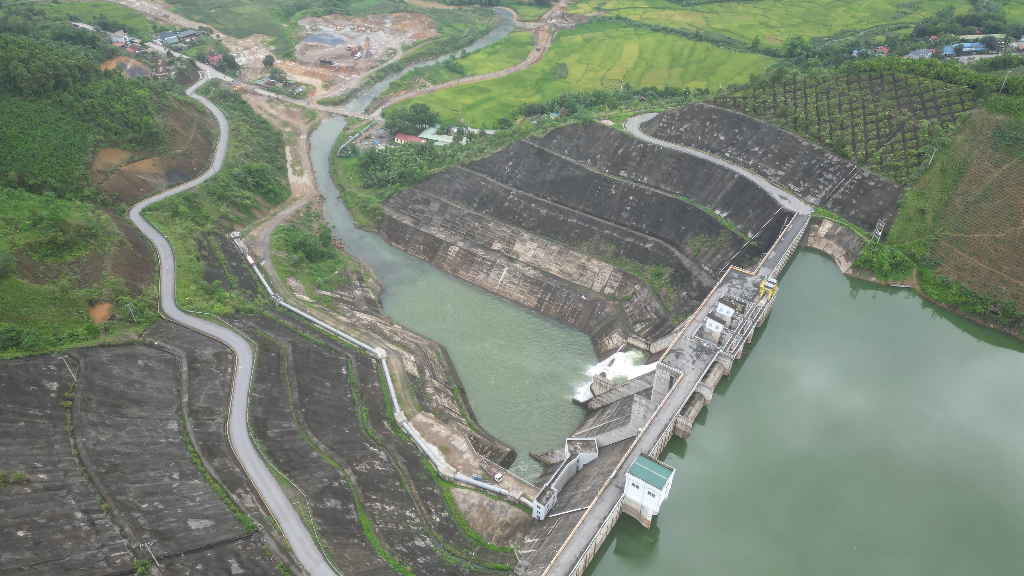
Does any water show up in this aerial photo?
Yes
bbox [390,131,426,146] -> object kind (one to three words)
house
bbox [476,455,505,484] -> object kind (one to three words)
truck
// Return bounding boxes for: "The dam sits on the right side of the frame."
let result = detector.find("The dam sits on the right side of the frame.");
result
[509,207,812,576]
